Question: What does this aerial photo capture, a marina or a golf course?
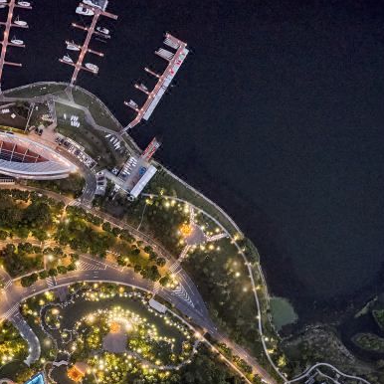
marina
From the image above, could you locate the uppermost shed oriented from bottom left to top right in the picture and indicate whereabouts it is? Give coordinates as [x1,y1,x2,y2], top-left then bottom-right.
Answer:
[129,166,157,199]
